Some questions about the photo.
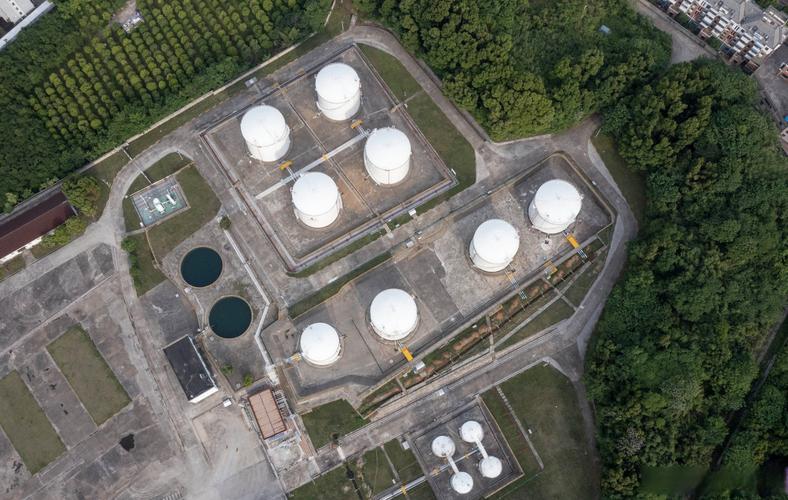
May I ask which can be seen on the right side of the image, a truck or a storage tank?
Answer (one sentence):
Looking on the right side of the image, you will find a storage tank.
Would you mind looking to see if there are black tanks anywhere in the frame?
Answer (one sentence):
No, there is no black tank in the image.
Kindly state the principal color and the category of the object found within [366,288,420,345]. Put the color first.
white storage tank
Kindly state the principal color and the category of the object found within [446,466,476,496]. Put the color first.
white storage tank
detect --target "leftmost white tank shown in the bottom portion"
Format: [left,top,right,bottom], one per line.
[299,321,347,369]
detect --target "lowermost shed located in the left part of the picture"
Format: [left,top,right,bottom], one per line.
[247,388,287,440]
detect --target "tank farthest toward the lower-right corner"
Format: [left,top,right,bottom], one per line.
[474,451,504,482]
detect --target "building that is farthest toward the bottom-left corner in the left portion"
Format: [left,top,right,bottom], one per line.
[162,335,218,405]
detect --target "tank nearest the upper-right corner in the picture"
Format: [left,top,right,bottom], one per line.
[523,180,582,238]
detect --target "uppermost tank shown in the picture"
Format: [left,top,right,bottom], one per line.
[316,63,365,122]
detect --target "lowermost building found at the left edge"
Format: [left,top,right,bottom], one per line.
[0,193,79,262]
